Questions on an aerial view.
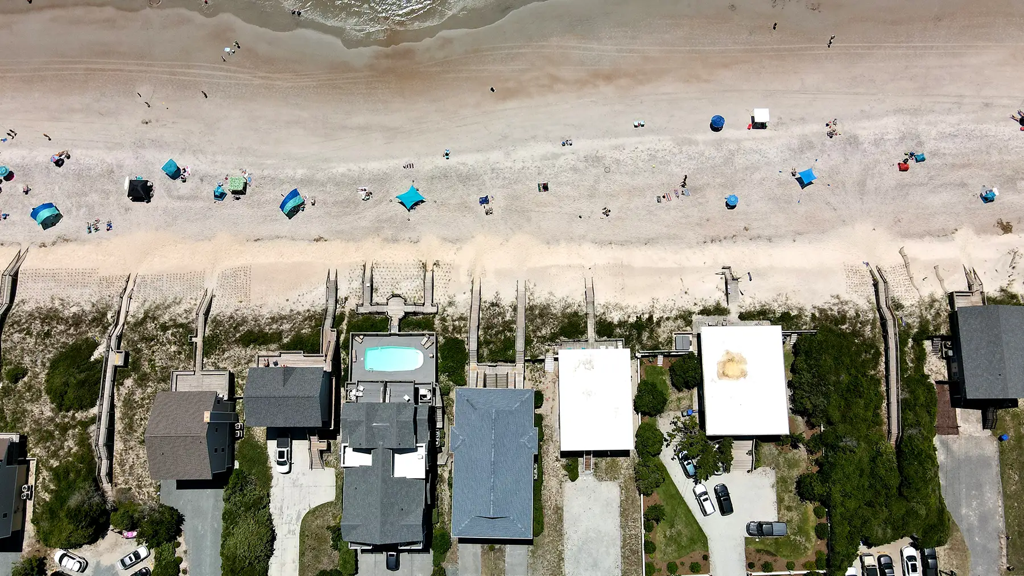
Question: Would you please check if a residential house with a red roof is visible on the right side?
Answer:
No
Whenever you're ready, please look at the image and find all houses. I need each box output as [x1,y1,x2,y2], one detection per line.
[0,438,30,539]
[448,388,540,539]
[244,367,332,427]
[340,379,434,550]
[558,348,634,452]
[693,326,790,436]
[944,305,1024,398]
[145,391,239,479]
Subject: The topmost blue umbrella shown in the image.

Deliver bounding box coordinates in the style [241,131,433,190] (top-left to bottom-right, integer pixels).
[711,115,724,128]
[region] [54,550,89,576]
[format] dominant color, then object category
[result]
white car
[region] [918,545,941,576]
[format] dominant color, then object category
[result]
black truck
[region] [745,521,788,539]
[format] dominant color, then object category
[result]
gray vehicle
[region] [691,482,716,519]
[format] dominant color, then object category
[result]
white car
